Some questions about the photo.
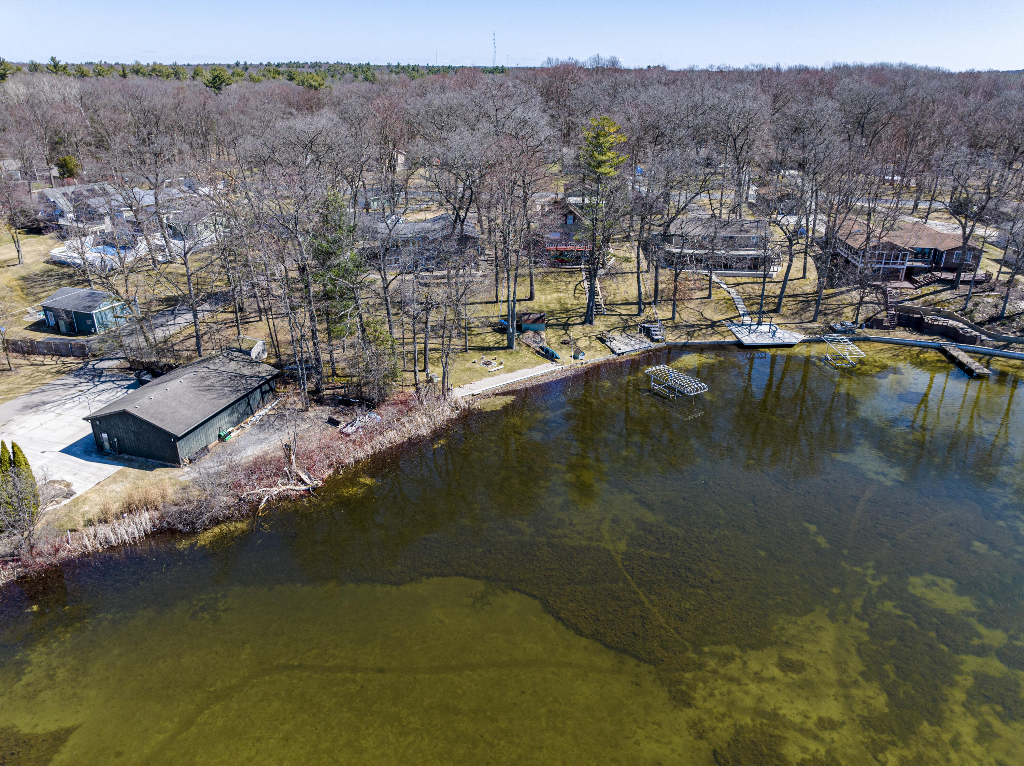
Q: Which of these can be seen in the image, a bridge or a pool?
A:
pool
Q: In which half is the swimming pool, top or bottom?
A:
top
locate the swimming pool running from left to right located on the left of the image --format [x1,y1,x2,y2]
[34,239,150,269]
